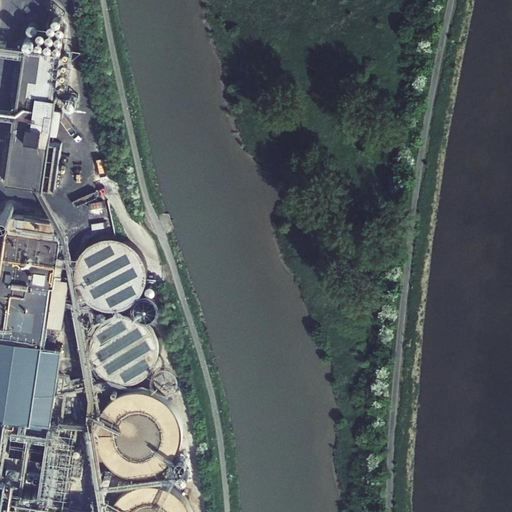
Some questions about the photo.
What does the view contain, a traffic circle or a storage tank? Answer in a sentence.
Looking from above, you can make out a storage tank.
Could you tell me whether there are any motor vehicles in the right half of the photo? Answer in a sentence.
No, I see no motor vehicle in the right half of the photo.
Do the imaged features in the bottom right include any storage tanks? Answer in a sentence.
No, in the bottom right there is no storage tank.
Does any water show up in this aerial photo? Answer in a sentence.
Yes, there's water in this view.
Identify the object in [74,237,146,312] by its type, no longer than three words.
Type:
storage tank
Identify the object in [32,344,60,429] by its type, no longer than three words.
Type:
building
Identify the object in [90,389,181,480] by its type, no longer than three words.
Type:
storage tank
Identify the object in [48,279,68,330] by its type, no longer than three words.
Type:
shed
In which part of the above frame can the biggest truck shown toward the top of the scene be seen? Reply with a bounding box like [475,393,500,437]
[70,186,107,208]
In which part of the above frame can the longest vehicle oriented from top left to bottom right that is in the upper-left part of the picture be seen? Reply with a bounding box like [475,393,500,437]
[60,116,81,142]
